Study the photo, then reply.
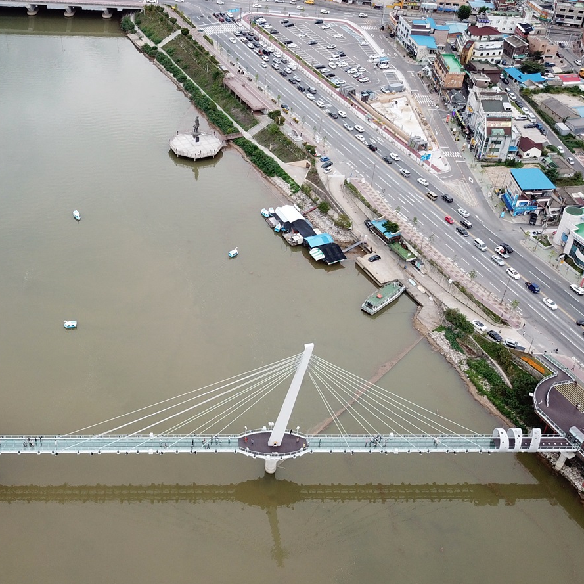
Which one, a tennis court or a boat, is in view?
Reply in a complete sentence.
The image shows a boat.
